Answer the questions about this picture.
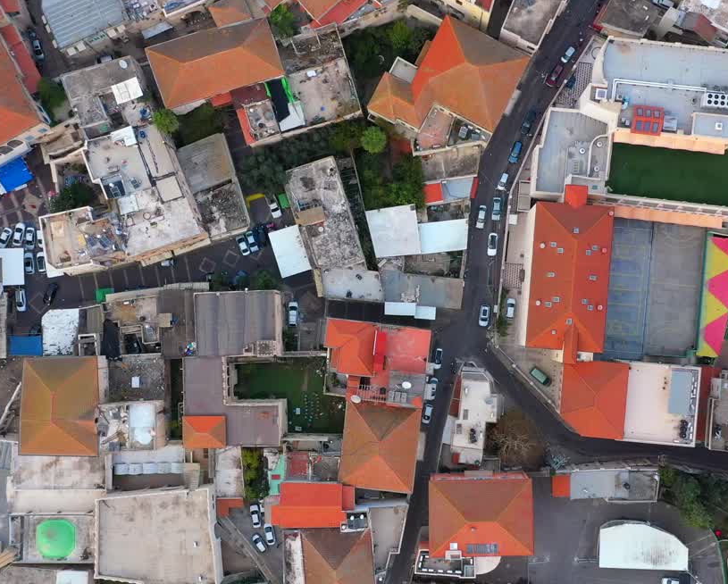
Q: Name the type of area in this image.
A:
residential area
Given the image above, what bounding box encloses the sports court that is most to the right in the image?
[644,221,712,361]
